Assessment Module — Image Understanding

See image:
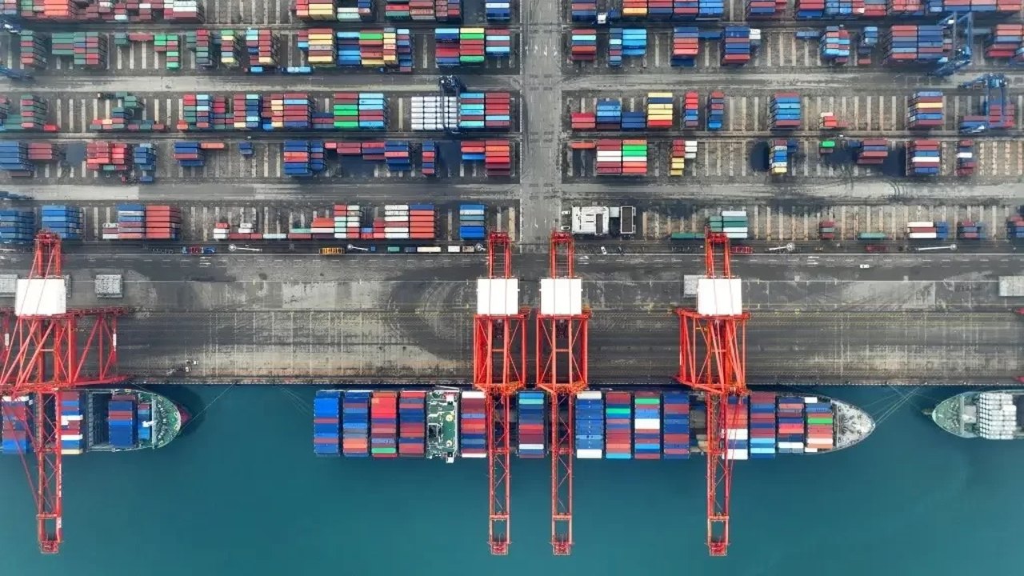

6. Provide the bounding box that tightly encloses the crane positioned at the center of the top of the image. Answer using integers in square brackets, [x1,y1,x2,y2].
[439,76,466,139]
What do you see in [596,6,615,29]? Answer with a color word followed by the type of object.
white vehicle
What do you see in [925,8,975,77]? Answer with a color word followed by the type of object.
blue crane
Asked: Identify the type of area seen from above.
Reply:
port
